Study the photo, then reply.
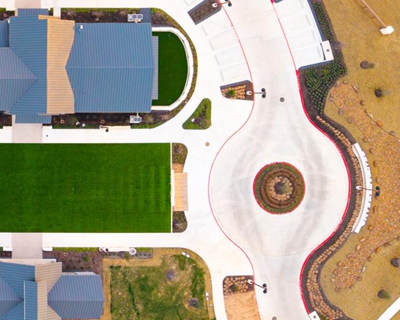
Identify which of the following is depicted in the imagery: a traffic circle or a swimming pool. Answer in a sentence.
I can see a traffic circle in this picture.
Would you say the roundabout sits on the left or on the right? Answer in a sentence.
You can find the roundabout on the right side of the picture.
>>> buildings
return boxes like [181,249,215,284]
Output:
[0,7,159,124]
[0,261,107,320]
